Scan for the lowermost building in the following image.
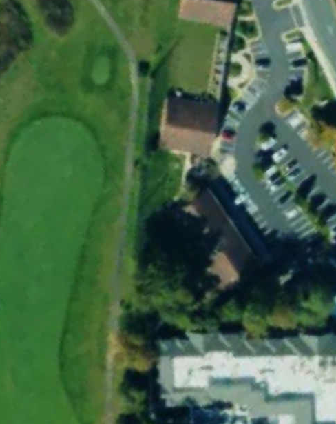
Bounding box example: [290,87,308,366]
[158,331,336,424]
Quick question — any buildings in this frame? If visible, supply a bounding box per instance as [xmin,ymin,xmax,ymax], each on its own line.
[158,331,336,424]
[190,179,272,272]
[158,93,222,154]
[179,0,237,29]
